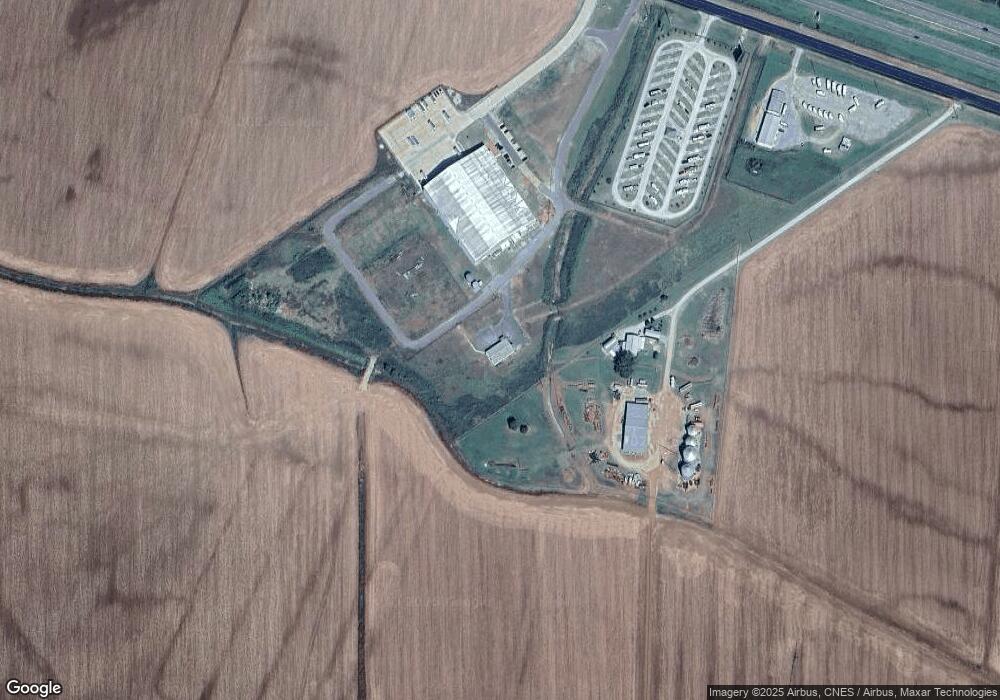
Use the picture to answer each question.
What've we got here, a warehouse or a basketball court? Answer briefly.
warehouse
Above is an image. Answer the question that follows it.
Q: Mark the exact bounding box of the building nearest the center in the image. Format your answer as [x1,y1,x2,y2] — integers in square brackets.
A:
[486,340,515,365]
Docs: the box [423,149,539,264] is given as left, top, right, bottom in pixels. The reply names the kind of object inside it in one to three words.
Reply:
warehouse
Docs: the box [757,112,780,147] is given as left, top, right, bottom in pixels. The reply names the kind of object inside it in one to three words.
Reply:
building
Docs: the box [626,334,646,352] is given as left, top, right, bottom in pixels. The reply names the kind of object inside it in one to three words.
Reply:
house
